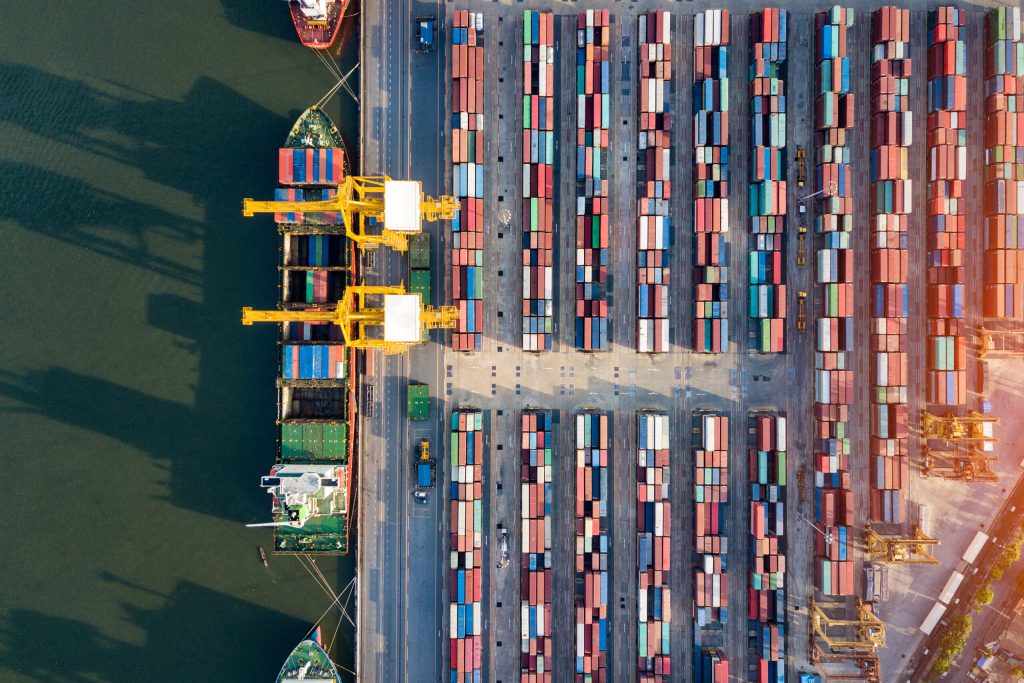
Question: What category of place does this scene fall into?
port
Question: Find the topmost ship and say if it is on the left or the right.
left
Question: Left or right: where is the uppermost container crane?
left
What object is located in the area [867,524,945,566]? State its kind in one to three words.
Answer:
container crane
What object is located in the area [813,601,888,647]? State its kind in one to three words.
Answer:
container crane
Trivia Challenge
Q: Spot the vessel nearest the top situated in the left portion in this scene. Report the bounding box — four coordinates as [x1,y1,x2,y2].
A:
[290,0,350,48]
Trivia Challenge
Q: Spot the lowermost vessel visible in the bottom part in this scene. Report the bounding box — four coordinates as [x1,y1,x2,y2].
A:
[277,627,342,683]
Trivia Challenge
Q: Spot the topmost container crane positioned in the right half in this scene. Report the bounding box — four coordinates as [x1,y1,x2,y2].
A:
[980,327,1024,358]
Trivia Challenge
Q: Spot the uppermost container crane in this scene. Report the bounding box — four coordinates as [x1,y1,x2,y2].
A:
[243,174,463,258]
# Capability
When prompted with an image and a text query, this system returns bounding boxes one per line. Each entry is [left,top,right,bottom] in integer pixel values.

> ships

[290,0,350,48]
[246,106,355,554]
[277,627,342,683]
